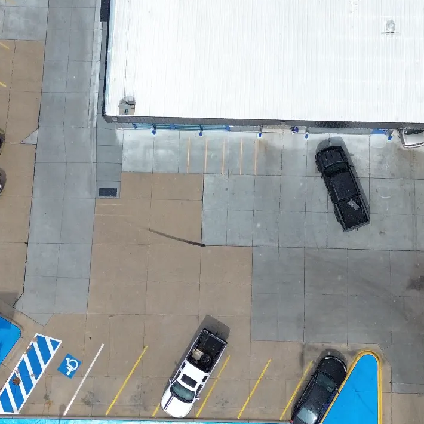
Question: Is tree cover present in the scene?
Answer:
No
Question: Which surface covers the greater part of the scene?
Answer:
paved ground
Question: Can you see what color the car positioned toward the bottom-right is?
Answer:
black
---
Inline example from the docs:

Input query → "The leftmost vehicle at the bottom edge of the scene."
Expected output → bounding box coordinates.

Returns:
[164,328,229,423]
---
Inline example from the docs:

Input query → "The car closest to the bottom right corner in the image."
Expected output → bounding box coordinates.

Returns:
[289,354,346,424]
